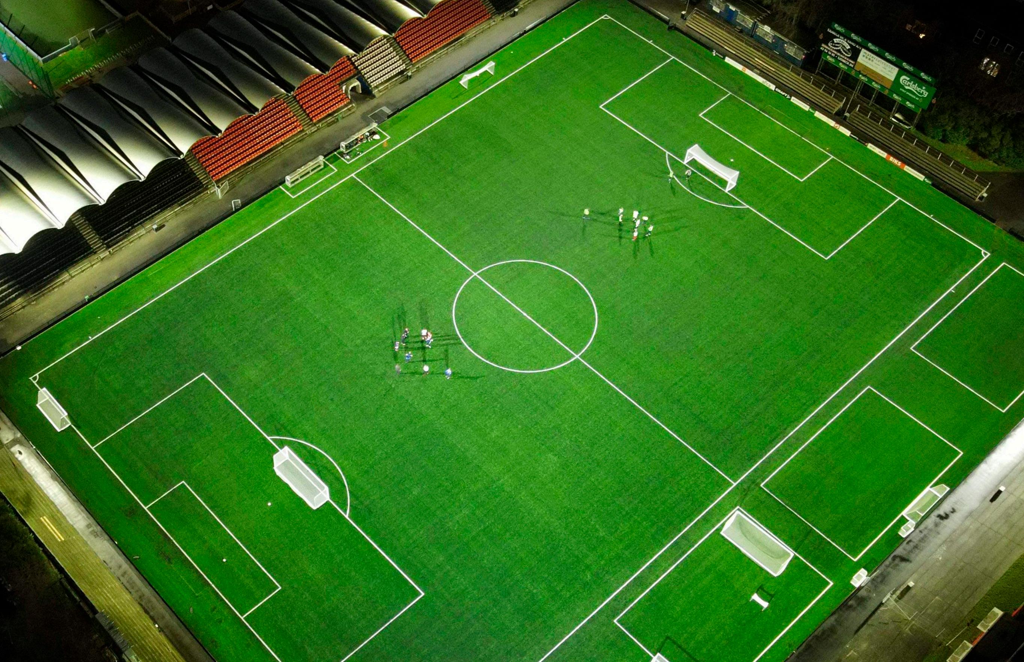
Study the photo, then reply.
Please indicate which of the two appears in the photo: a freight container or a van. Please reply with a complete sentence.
Of the two, only a freight container appears.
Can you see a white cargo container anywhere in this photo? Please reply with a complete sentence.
No, this view has no white cargo container in it.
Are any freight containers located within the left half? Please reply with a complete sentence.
No, looking within the left half, there is no freight container.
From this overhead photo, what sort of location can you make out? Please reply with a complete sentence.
What you see here is a sports ground.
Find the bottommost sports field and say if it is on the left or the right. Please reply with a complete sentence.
The bottommost sports field appears in the right half of the scene.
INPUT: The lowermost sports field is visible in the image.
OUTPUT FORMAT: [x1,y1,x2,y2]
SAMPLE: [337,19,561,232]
[614,506,833,662]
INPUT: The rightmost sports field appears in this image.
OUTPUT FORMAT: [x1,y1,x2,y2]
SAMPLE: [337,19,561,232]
[910,263,1024,412]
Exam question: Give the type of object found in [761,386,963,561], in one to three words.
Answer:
sports field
